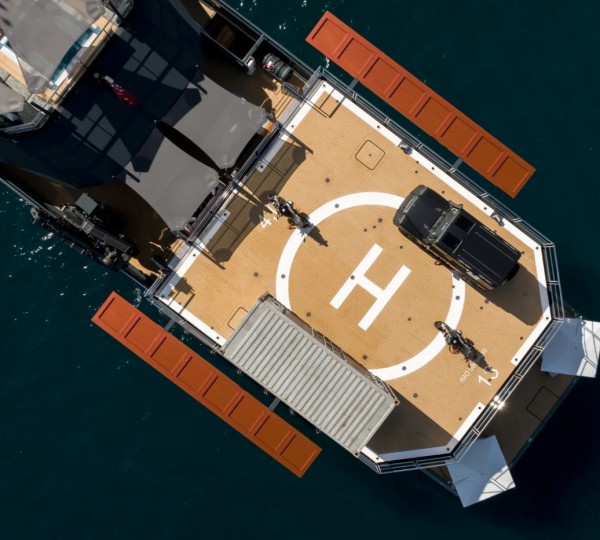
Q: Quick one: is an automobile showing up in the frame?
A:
Yes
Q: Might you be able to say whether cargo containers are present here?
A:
Yes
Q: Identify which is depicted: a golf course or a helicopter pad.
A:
helicopter pad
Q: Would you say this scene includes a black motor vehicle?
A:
Yes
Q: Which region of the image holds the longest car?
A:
right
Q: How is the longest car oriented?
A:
at an angle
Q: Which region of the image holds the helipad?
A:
center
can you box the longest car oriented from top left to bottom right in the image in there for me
[396,187,517,291]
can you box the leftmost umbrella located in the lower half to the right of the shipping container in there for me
[445,434,516,506]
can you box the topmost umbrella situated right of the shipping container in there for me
[540,318,600,377]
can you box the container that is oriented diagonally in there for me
[221,293,398,458]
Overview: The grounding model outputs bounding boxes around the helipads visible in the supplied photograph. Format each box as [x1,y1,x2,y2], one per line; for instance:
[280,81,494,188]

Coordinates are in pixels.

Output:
[145,65,570,474]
